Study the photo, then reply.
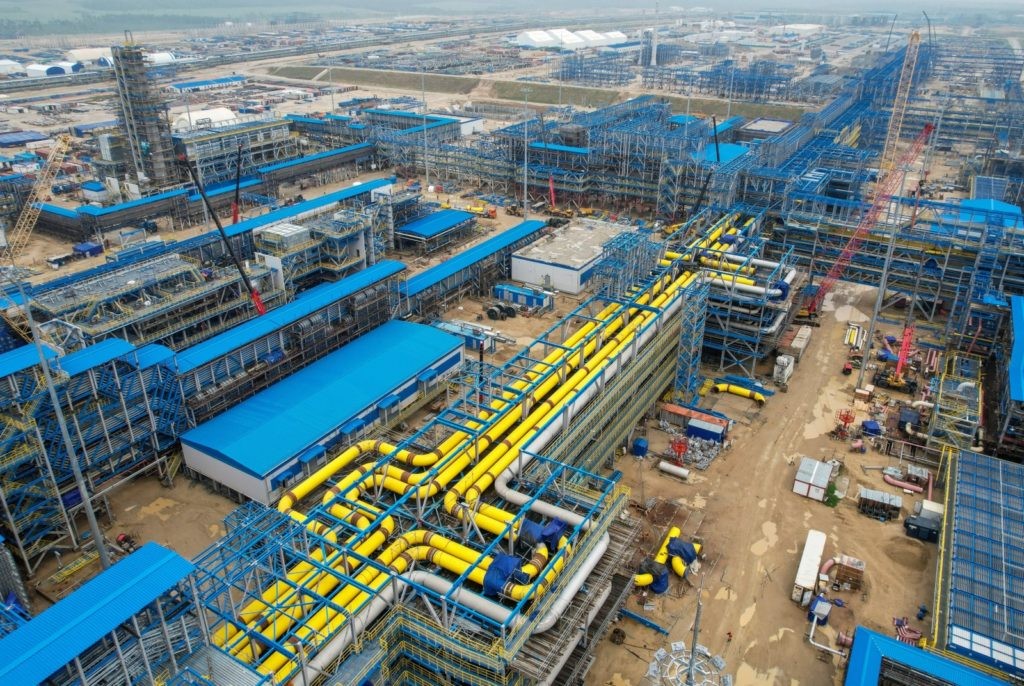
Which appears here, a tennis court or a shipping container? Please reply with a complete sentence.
I can see a shipping container in this picture.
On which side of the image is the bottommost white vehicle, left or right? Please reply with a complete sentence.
The bottommost white vehicle sits on the right side.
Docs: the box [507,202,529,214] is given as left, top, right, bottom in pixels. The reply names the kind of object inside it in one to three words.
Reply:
vehicle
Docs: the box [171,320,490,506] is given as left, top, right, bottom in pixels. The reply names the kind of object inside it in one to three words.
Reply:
building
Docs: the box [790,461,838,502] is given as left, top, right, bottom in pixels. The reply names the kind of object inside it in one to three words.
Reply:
building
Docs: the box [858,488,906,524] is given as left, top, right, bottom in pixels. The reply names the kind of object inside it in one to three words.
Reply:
shed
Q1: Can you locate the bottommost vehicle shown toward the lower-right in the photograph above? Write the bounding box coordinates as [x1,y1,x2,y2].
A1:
[783,528,825,628]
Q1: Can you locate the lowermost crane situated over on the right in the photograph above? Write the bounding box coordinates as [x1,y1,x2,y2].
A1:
[866,319,929,398]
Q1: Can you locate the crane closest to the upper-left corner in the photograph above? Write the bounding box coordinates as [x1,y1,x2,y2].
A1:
[0,137,86,272]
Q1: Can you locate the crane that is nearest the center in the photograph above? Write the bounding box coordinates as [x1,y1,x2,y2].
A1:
[539,179,573,217]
